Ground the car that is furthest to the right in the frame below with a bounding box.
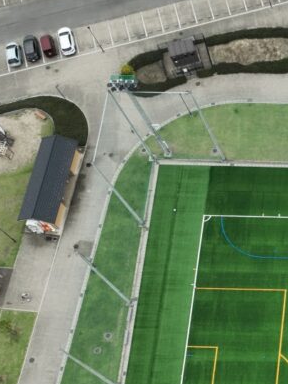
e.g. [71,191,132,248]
[58,28,77,57]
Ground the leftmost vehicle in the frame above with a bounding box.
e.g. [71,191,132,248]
[5,43,23,69]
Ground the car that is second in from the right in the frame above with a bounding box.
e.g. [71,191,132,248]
[40,36,57,59]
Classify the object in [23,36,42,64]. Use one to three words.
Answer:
car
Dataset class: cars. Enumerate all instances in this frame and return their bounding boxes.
[40,36,57,59]
[5,43,23,69]
[58,28,77,57]
[23,36,42,64]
